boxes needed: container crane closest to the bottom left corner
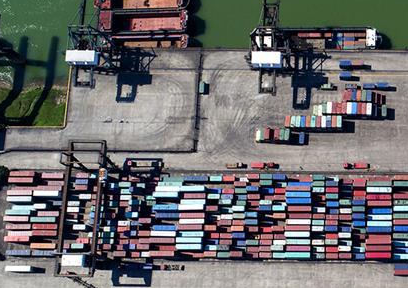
[55,141,125,288]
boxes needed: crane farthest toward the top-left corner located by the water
[63,0,126,88]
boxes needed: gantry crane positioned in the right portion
[249,0,306,94]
